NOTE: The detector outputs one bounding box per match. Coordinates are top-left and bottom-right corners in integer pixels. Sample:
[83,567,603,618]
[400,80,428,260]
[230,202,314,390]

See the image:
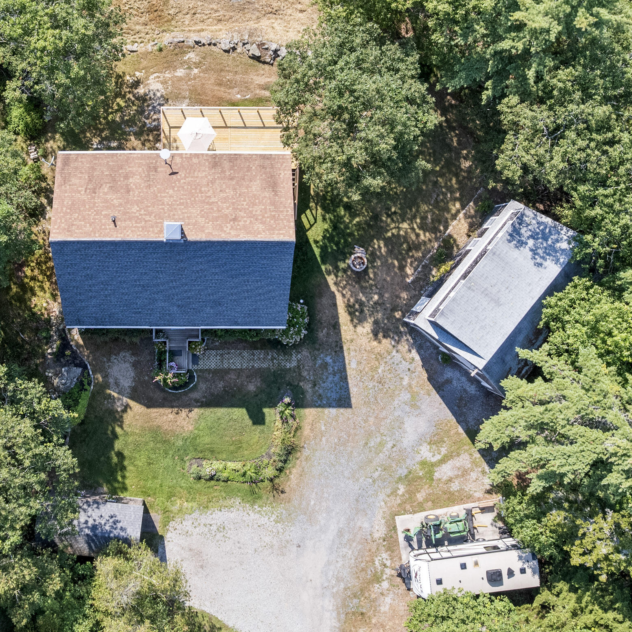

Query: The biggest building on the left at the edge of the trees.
[50,149,295,331]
